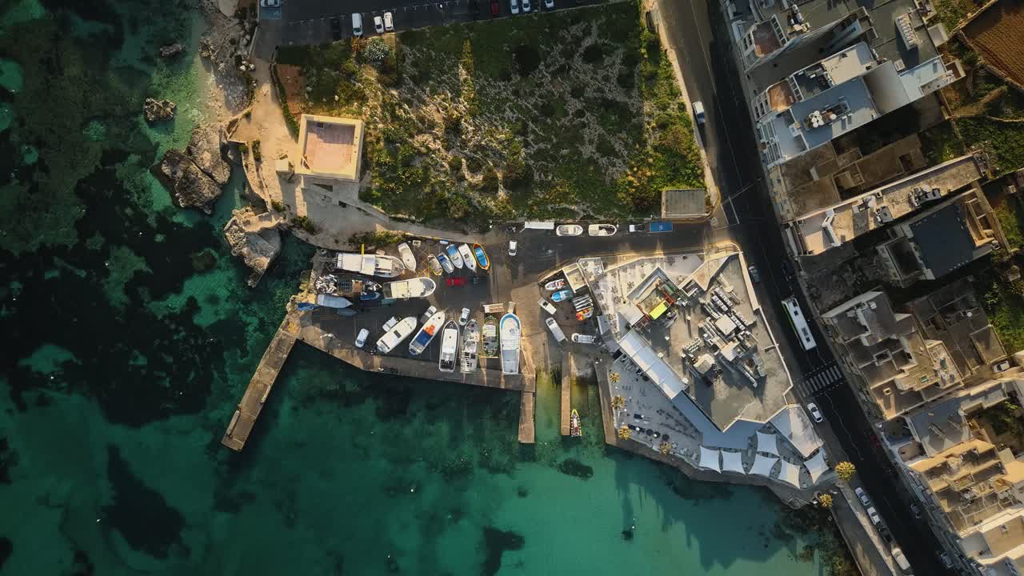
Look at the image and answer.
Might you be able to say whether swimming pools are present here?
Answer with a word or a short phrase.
No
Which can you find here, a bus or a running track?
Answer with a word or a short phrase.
bus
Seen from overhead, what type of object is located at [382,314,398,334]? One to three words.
vehicle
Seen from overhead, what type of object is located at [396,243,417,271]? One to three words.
boat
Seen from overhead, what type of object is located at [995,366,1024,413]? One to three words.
house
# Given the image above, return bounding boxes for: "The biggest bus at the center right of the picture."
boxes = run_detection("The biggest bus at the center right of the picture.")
[779,295,815,350]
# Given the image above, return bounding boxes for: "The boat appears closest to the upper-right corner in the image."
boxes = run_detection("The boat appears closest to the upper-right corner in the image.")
[588,223,617,235]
